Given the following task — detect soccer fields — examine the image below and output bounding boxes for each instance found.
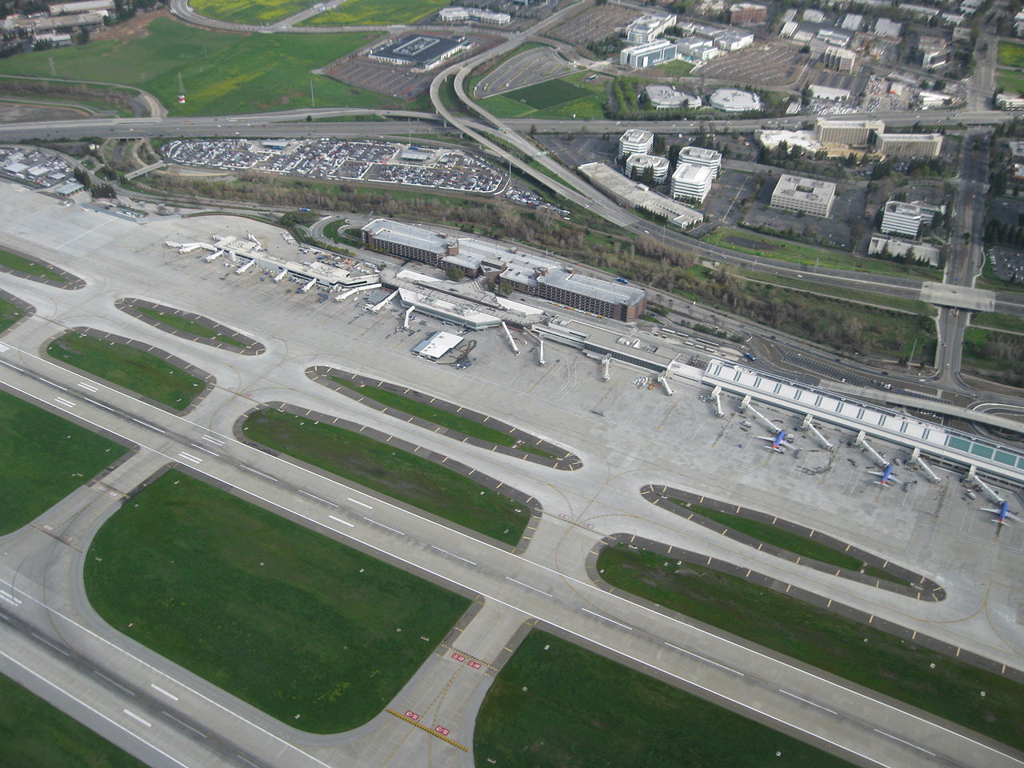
[498,79,593,110]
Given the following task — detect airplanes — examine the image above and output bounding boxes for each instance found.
[756,429,798,451]
[977,500,1024,526]
[863,463,908,487]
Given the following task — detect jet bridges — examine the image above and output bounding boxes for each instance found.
[370,289,399,316]
[716,396,724,417]
[273,270,286,283]
[246,233,262,247]
[501,321,520,355]
[203,248,226,262]
[604,354,611,381]
[919,455,941,484]
[747,403,775,430]
[862,437,889,466]
[178,242,204,255]
[403,306,416,328]
[809,420,833,448]
[301,281,315,294]
[235,259,257,276]
[333,282,383,302]
[210,234,225,242]
[539,338,545,364]
[163,241,219,252]
[975,472,1005,502]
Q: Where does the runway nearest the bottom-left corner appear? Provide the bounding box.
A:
[0,582,333,768]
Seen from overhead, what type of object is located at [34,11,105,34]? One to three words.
shed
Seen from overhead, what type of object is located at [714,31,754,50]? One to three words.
building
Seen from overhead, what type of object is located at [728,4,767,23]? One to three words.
building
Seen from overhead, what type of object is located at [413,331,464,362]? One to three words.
shed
